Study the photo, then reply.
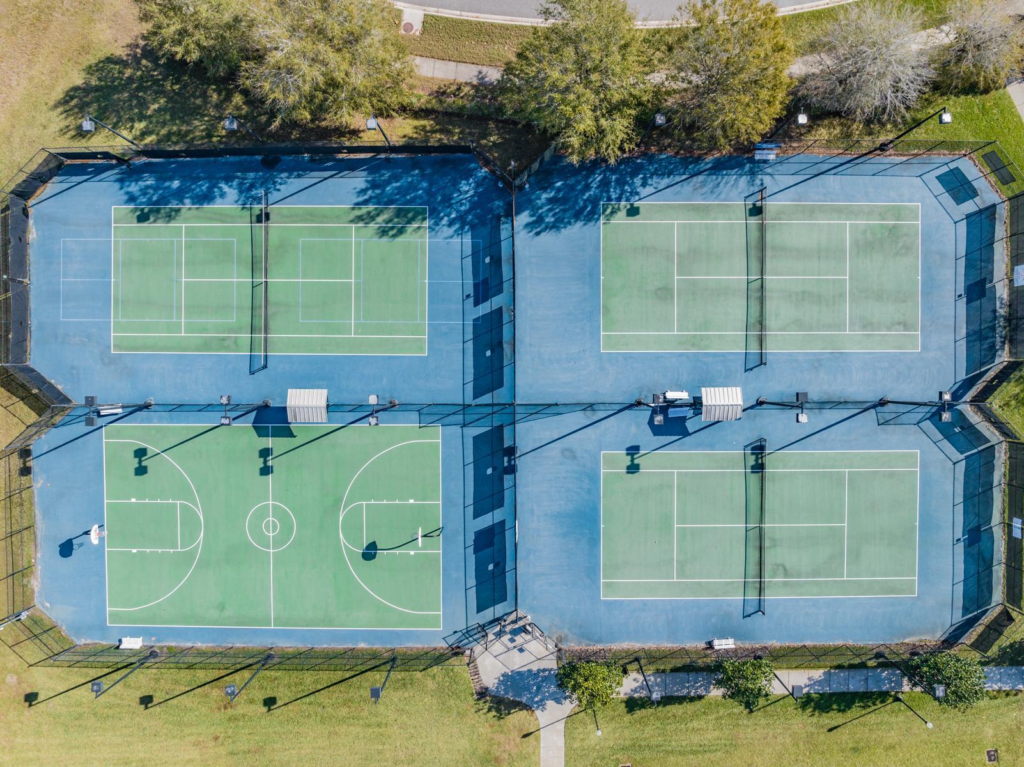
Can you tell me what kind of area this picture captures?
sports ground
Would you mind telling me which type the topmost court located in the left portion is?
tennis court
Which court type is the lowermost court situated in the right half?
tennis court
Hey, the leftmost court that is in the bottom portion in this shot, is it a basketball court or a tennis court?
basketball court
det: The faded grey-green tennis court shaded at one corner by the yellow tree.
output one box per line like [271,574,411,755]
[514,155,1004,404]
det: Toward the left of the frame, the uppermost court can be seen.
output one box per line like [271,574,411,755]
[31,156,514,404]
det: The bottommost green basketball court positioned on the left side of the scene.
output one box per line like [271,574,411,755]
[34,404,515,646]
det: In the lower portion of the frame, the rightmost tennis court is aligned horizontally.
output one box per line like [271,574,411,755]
[514,404,1002,645]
